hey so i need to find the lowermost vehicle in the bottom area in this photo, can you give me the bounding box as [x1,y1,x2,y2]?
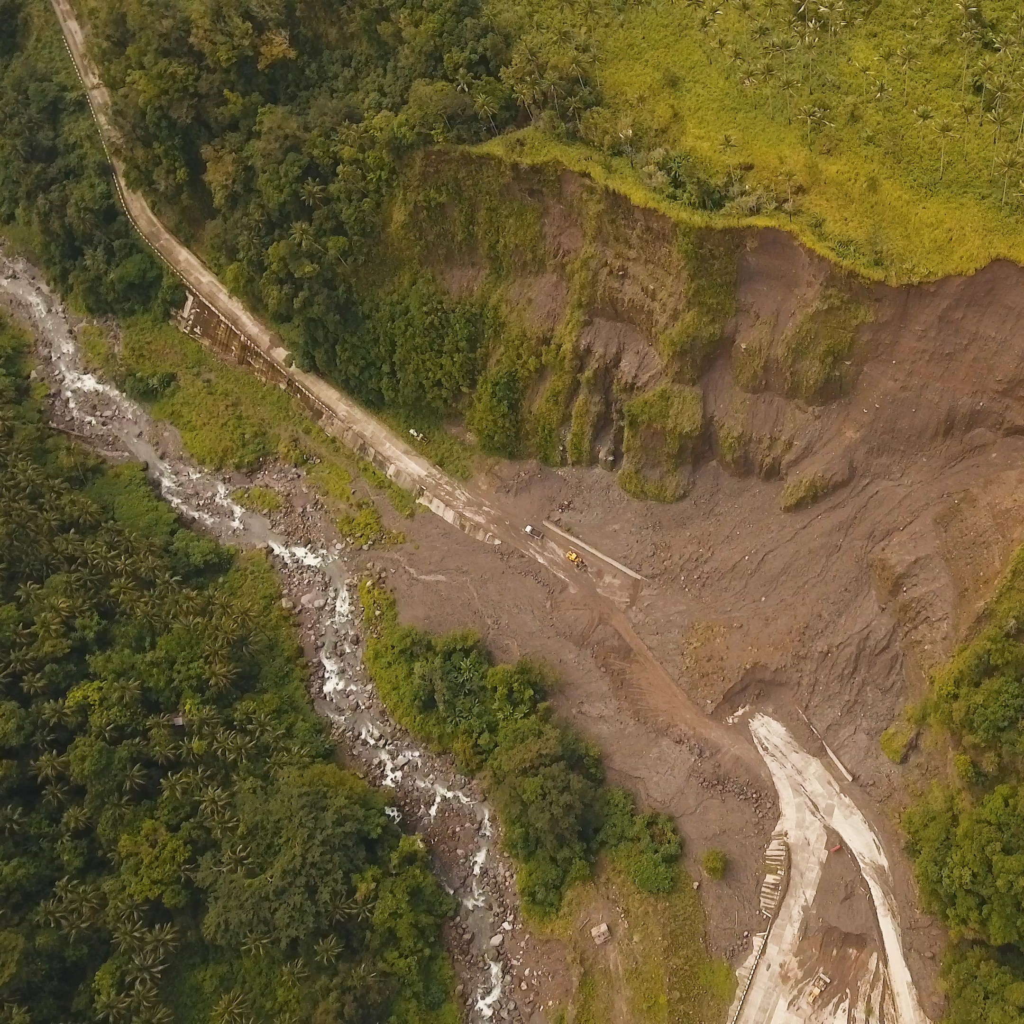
[807,972,832,1005]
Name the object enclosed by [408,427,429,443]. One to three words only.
work vehicle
